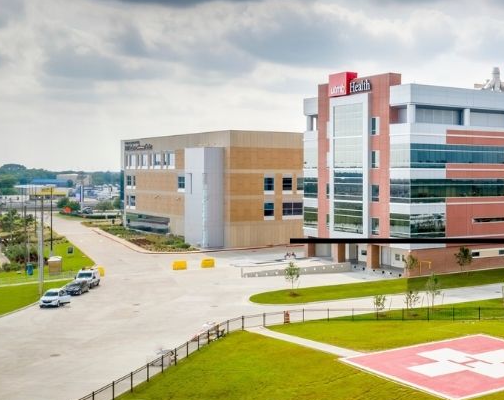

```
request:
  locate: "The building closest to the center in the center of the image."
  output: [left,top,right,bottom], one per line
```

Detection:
[118,130,307,249]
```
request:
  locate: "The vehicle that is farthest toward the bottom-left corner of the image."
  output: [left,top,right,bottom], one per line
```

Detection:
[42,290,74,306]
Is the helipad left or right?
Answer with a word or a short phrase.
right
